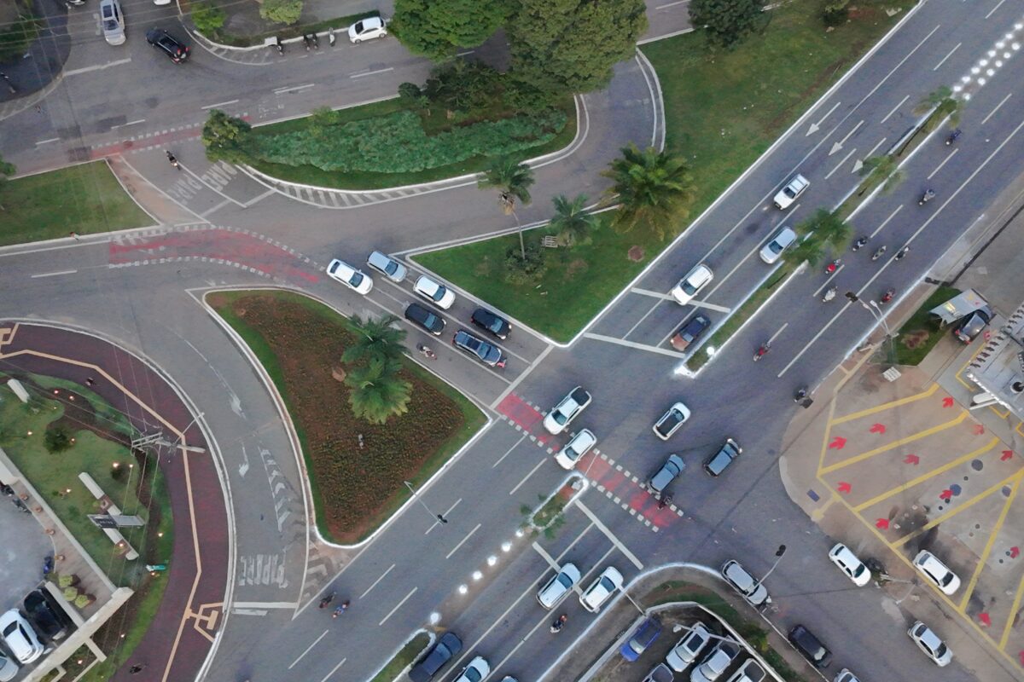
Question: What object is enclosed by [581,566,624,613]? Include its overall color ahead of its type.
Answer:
white car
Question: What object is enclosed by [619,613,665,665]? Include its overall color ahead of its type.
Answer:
blue truck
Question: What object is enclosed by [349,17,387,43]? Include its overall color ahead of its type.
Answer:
white car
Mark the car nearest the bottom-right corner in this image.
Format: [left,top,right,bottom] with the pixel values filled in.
[902,617,954,670]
